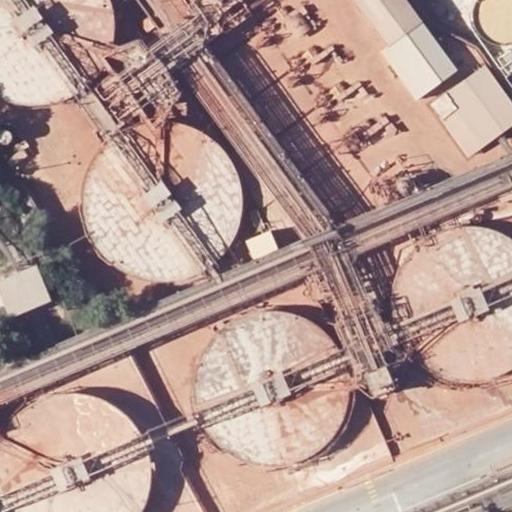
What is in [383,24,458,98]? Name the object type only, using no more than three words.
building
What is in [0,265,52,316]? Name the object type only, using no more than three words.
house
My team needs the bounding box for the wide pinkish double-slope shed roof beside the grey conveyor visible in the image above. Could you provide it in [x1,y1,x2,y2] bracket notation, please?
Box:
[430,66,512,158]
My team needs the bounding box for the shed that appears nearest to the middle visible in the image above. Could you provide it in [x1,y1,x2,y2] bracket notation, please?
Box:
[246,231,278,260]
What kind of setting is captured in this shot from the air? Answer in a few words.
industrial area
